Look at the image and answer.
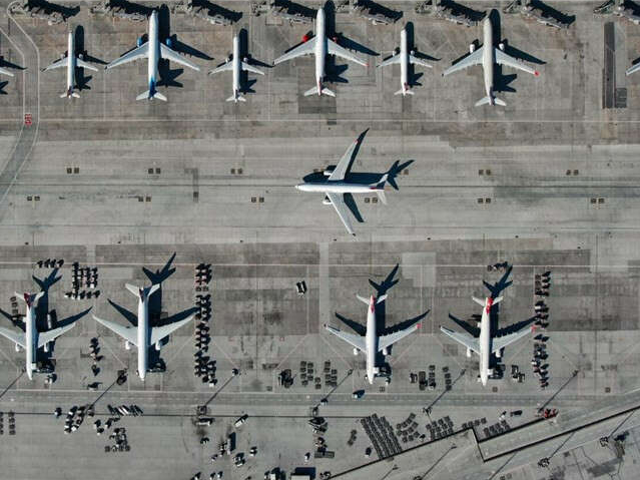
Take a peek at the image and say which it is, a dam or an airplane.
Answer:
airplane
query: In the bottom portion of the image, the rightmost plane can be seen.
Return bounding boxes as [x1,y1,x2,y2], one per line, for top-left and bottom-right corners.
[440,300,535,385]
